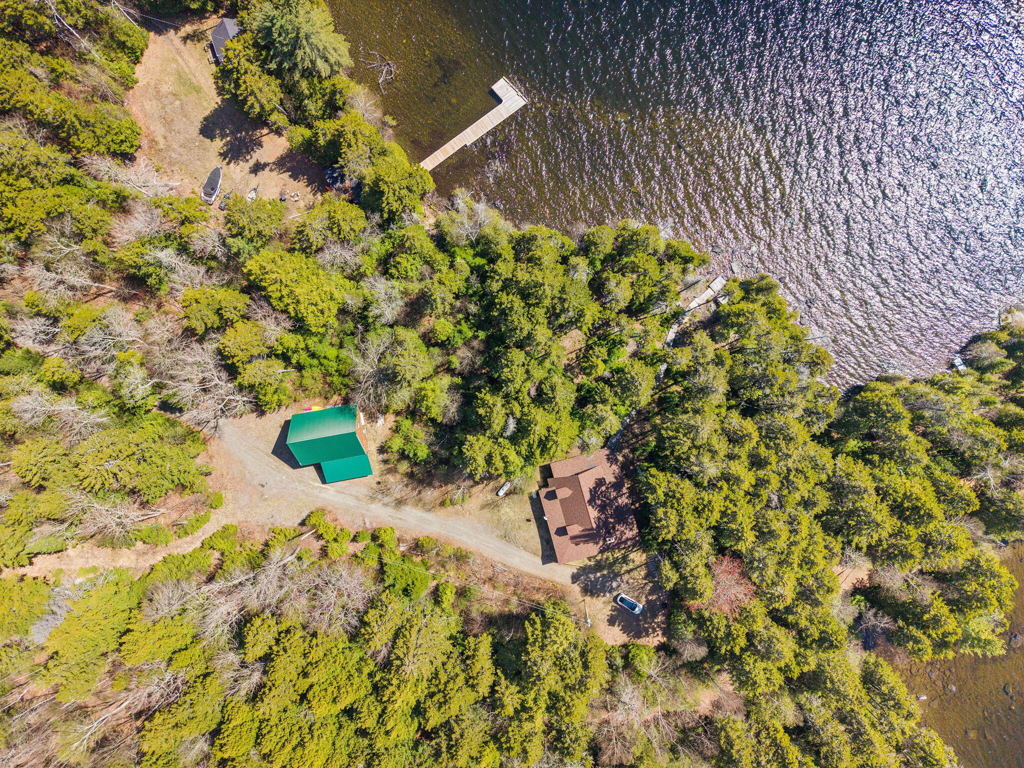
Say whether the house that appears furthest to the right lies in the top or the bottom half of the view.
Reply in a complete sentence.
Seen from above, the house that appears furthest to the right lies in the bottom half of the view.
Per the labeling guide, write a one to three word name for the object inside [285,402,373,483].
building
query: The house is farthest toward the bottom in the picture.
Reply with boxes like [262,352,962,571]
[538,446,640,564]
